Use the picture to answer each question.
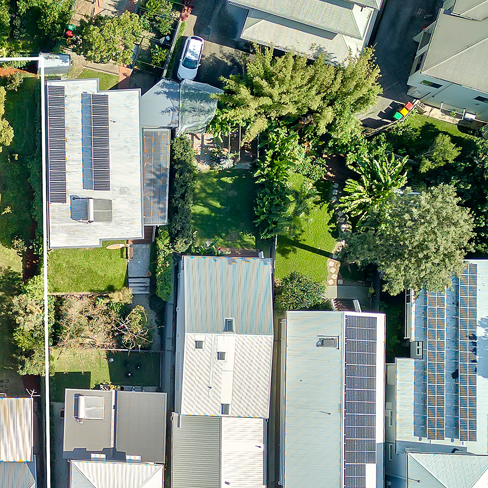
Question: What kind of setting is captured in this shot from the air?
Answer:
residential area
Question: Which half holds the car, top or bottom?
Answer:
top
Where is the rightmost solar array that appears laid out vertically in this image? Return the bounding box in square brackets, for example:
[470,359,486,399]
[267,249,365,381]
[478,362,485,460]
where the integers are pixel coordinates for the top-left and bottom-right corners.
[453,264,478,442]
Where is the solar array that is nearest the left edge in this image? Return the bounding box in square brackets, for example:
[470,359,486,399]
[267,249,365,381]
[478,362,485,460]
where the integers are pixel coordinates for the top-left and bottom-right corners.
[47,85,66,203]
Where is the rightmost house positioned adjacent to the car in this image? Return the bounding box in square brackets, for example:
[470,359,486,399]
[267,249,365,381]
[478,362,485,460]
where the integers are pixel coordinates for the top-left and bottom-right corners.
[216,0,383,69]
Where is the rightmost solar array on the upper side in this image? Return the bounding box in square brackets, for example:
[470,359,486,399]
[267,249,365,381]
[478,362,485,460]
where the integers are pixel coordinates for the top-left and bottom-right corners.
[90,94,110,191]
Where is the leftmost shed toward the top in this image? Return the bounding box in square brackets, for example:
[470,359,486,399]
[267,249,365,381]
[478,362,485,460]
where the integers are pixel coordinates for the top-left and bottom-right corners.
[38,55,71,75]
